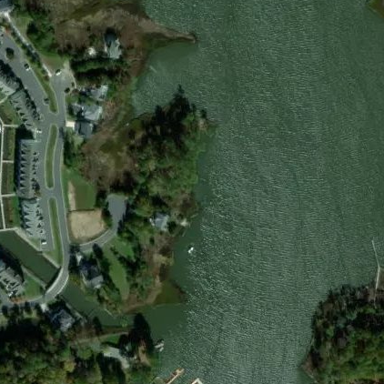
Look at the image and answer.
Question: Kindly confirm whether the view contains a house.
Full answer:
Yes, the picture does show a house.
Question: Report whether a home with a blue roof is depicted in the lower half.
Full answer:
No, in the lower half there is no home with a blue roof.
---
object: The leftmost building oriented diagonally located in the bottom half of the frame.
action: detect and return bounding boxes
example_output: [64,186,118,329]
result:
[0,256,29,297]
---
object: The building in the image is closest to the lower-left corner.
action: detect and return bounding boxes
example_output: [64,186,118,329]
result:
[49,303,76,332]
